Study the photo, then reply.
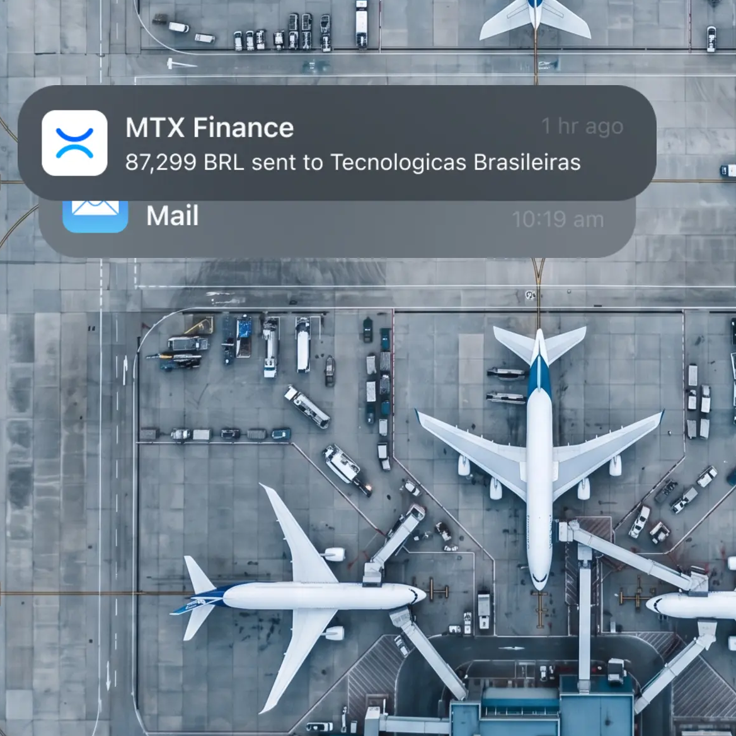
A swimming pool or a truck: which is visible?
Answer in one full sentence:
This aerial view contains a truck.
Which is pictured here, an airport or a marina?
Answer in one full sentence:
It's an airport.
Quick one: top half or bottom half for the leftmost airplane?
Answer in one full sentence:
The leftmost airplane sits in the bottom half of the picture.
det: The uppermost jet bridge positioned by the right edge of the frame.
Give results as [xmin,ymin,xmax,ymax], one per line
[553,517,709,594]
